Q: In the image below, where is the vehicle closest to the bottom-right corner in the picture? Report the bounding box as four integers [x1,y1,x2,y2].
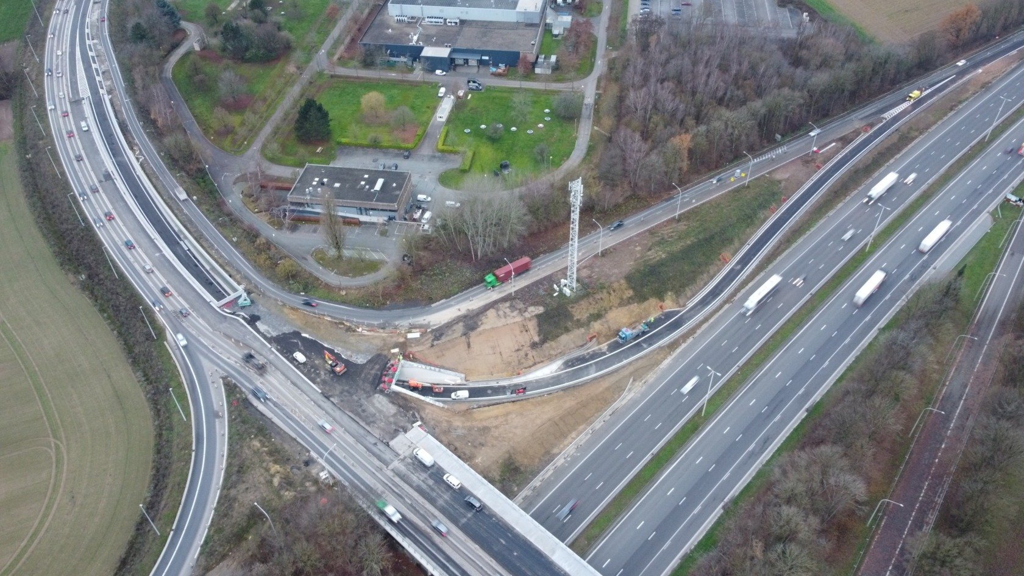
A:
[853,271,887,306]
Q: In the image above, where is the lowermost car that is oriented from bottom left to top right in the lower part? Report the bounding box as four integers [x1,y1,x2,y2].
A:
[558,502,575,520]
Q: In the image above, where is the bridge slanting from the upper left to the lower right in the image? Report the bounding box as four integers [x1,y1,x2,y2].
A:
[319,425,603,576]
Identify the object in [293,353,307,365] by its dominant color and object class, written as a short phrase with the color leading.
white vehicle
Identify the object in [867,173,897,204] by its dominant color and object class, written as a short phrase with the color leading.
white truck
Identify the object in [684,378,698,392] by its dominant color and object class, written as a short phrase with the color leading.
white vehicle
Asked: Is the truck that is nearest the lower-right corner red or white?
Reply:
white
